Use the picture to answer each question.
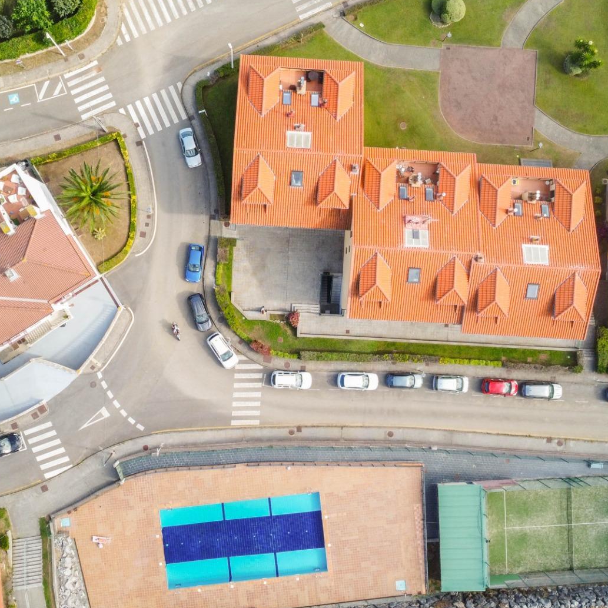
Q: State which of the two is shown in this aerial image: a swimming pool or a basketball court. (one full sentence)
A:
Visible in the photo is a swimming pool.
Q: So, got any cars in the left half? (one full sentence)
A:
Yes, a car shows up in the left half.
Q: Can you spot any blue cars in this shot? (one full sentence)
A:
Yes, you can see a blue car in this photo.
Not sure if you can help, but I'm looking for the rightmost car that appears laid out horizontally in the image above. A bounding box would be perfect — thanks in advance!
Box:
[521,381,562,401]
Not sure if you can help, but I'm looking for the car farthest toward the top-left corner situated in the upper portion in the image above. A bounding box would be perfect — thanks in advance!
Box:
[179,127,202,168]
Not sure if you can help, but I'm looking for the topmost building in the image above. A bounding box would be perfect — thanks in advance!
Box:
[230,54,364,232]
